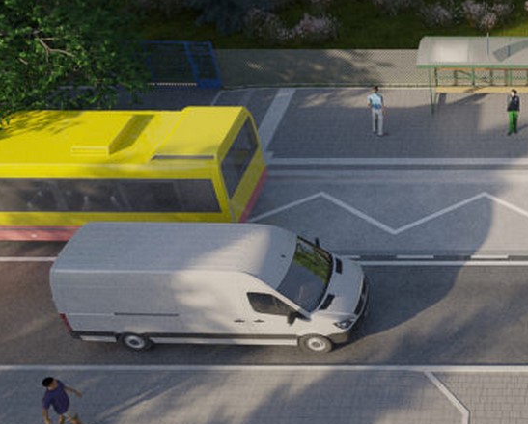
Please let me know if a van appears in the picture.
Yes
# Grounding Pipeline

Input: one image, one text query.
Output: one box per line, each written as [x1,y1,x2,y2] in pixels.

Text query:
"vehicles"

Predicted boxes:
[0,105,264,240]
[54,222,373,354]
